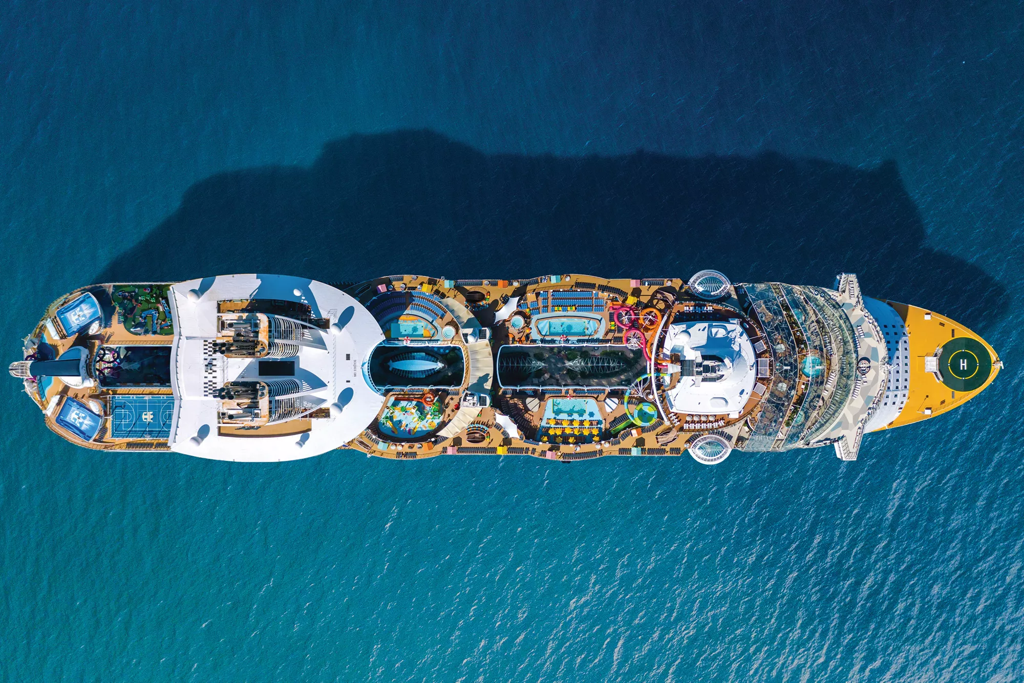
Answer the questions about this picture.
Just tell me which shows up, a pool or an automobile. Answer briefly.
pool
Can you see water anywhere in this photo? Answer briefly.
Yes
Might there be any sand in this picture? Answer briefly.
No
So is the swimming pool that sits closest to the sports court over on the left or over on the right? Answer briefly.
left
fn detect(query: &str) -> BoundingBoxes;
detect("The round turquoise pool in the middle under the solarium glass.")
[801,357,821,378]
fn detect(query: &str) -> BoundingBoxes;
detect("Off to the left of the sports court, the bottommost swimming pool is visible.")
[43,393,105,442]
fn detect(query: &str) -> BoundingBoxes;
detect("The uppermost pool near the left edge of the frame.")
[42,292,105,340]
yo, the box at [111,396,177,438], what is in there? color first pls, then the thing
blue sports court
